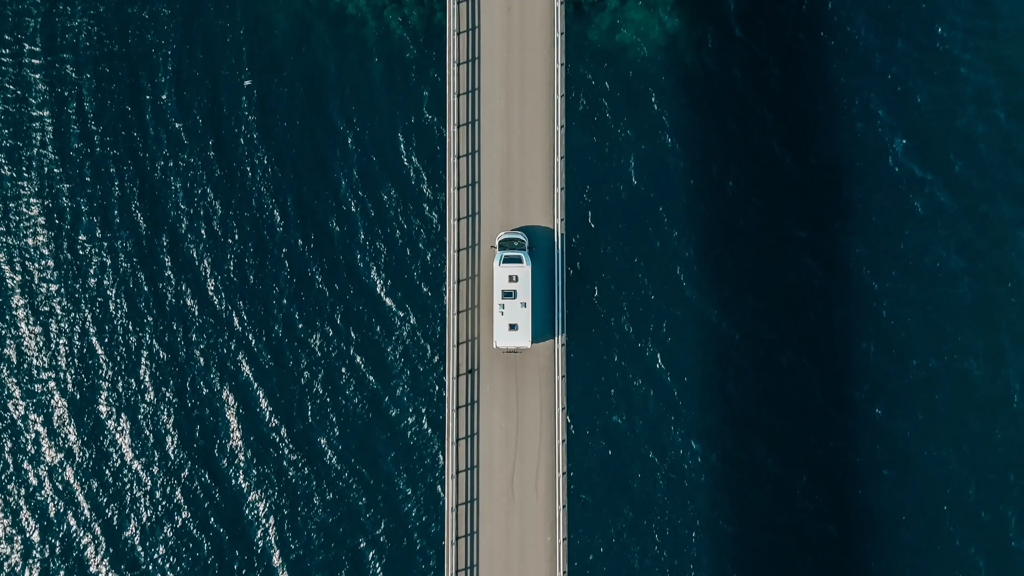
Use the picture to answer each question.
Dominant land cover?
water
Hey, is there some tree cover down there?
No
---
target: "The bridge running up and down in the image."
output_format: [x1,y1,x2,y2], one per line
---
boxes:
[445,0,566,576]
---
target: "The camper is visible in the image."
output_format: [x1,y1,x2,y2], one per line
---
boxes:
[490,231,534,354]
